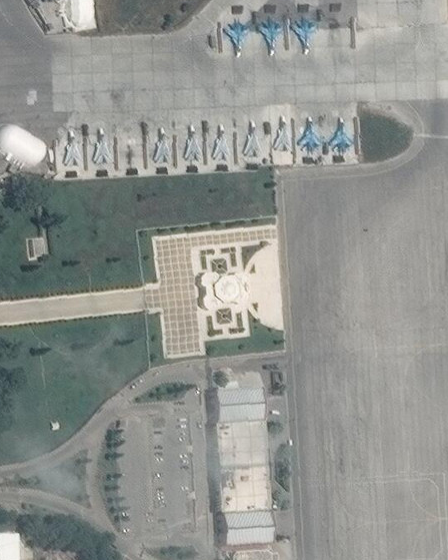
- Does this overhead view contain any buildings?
Yes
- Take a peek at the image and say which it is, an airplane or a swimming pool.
airplane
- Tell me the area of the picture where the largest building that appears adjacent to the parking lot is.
bottom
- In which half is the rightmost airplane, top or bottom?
top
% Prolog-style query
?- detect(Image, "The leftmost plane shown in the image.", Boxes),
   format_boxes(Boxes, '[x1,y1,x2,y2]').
[64,130,83,165]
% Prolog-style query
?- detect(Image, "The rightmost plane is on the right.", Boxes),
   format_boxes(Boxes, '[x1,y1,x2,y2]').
[329,119,352,154]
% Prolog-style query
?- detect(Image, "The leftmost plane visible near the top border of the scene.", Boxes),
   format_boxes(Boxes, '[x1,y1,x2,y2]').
[224,19,250,58]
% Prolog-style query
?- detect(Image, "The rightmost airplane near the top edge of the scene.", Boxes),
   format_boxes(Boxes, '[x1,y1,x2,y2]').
[290,17,315,55]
